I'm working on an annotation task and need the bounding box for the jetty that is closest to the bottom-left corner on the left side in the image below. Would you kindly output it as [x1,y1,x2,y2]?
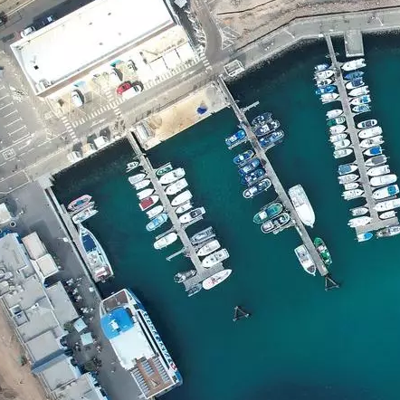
[49,188,95,249]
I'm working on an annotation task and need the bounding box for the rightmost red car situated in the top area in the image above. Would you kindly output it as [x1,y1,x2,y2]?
[116,82,133,94]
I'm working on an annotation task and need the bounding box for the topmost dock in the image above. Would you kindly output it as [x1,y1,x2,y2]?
[345,29,364,57]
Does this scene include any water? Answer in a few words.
Yes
